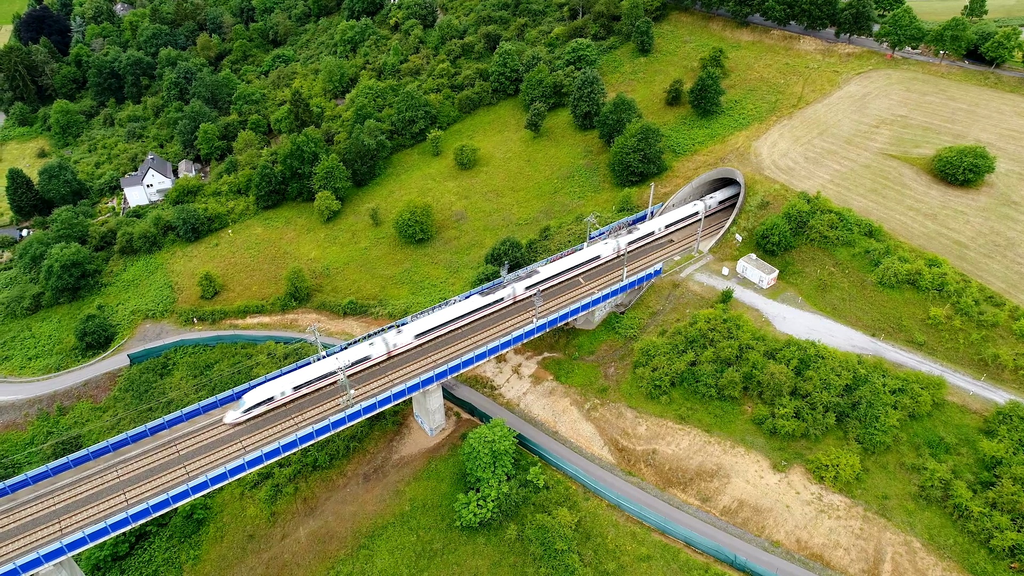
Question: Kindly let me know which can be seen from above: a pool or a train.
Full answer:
The image shows a train.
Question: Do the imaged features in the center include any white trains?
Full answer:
Yes, a white train appears in the center.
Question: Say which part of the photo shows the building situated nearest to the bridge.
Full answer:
You can find the building situated nearest to the bridge in the right area of the picture.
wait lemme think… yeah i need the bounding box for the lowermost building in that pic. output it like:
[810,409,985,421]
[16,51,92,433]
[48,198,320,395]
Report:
[737,255,779,290]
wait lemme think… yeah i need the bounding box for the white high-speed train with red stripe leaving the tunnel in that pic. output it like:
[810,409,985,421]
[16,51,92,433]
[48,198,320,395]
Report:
[226,186,736,426]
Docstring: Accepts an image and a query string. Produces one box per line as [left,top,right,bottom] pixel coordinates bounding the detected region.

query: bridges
[0,275,658,576]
